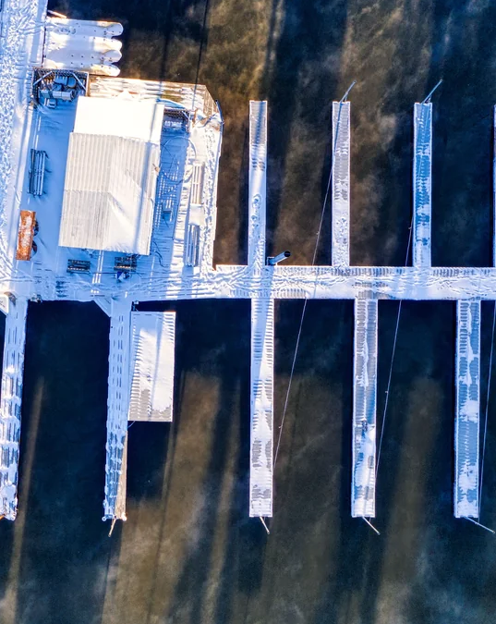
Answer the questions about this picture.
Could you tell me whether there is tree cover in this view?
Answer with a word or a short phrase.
No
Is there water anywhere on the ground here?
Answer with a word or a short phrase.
Yes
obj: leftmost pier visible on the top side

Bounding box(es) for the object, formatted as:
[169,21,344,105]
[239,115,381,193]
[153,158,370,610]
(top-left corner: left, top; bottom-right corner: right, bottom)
[249,101,267,266]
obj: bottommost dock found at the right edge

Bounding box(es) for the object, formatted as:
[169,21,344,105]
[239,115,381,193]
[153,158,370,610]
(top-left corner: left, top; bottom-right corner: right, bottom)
[453,300,481,518]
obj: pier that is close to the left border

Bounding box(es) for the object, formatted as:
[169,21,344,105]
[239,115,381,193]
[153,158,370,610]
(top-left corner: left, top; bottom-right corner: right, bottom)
[0,300,29,520]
